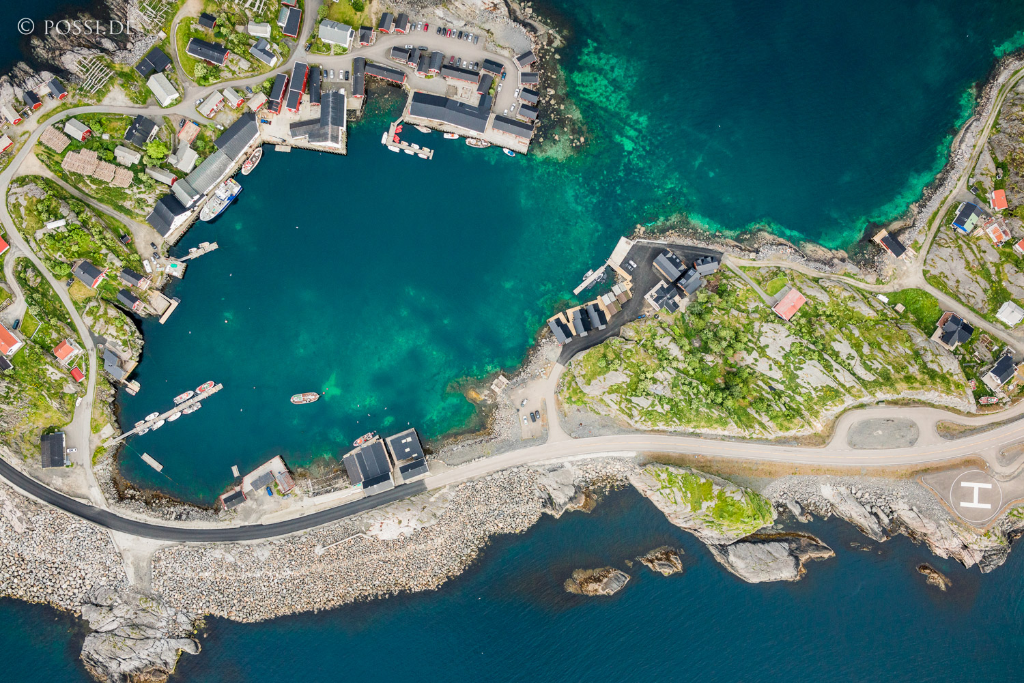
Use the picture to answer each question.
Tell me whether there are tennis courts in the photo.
No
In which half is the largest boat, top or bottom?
top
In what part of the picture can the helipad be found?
bottom right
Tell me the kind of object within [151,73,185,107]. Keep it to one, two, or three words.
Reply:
barn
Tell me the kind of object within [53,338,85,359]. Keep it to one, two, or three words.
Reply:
house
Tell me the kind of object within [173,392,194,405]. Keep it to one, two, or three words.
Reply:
boat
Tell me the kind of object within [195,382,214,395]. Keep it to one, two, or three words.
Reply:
boat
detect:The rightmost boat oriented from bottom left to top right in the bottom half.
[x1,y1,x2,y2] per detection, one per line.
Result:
[354,432,373,446]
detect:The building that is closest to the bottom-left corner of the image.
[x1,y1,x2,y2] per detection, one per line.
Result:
[42,432,70,468]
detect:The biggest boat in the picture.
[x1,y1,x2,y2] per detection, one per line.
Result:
[197,176,244,220]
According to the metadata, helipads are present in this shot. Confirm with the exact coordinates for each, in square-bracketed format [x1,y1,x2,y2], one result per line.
[922,470,1024,527]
